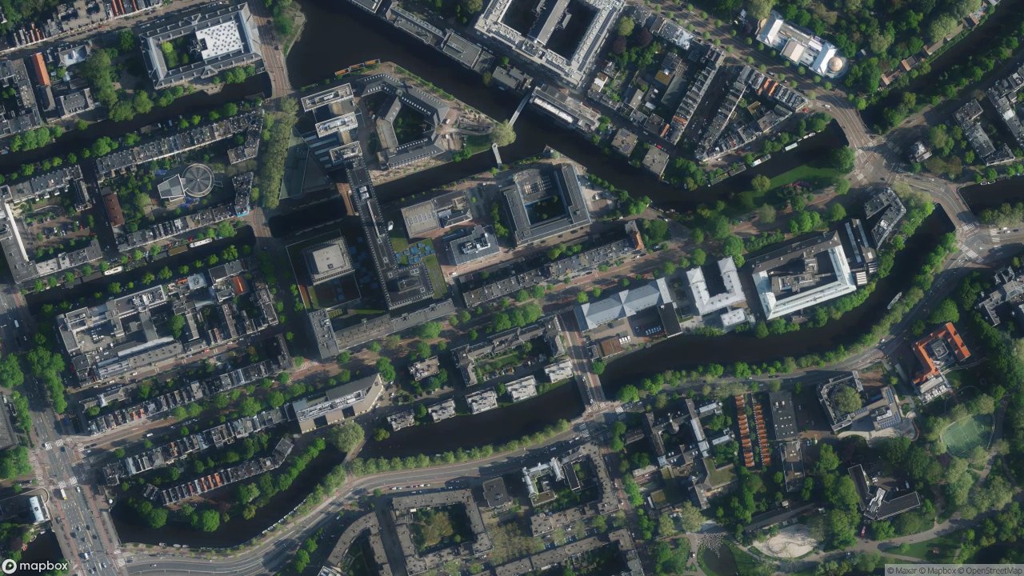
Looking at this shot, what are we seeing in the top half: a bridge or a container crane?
bridge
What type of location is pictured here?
residential area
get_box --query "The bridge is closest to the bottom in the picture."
[49,503,126,576]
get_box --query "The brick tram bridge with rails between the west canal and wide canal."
[269,56,295,98]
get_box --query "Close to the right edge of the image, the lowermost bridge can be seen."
[932,184,980,232]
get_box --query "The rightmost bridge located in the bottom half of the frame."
[572,367,608,411]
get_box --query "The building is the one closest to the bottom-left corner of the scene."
[0,495,45,525]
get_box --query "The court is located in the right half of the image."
[943,413,995,460]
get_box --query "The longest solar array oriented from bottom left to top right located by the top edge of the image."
[578,9,616,71]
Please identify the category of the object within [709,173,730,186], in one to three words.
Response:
boat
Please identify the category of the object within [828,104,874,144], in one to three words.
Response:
bridge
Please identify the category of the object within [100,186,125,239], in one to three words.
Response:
building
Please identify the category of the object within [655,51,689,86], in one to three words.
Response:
house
